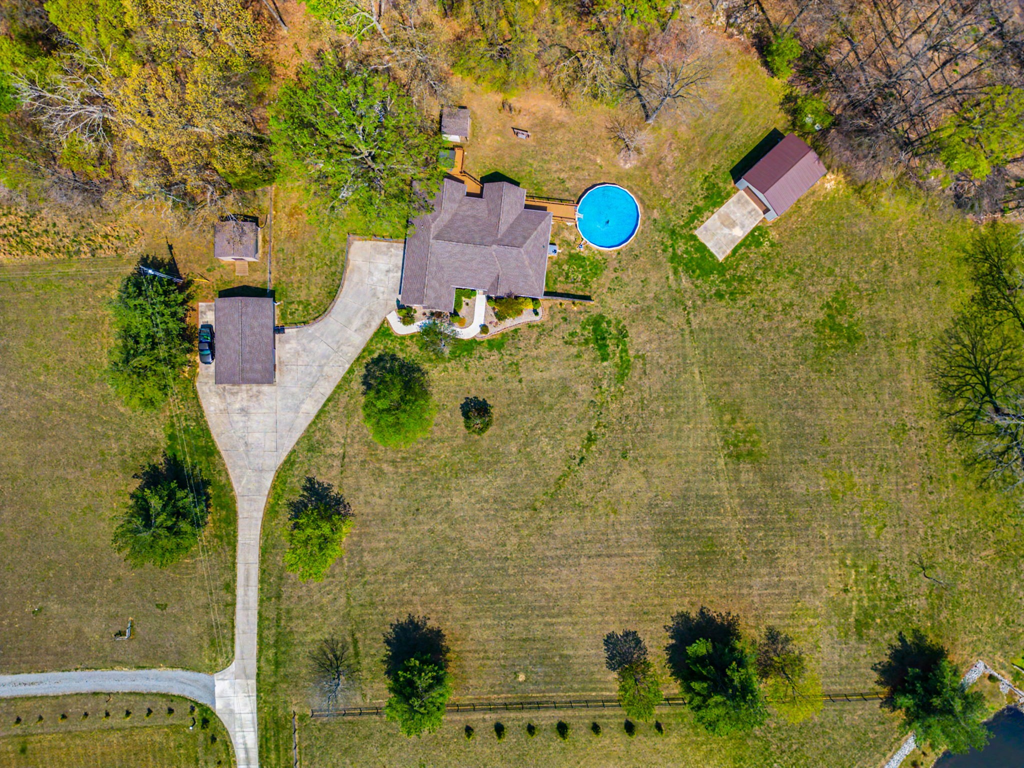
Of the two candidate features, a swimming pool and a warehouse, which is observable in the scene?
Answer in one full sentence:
It is a swimming pool that can be seen here.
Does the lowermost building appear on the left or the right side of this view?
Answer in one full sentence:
The lowermost building is on the left side of the image.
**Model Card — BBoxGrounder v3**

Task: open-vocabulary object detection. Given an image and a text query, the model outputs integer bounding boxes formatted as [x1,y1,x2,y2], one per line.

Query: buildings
[739,133,827,219]
[441,107,469,146]
[214,297,284,384]
[215,221,262,259]
[400,176,553,312]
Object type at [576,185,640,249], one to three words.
swimming pool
